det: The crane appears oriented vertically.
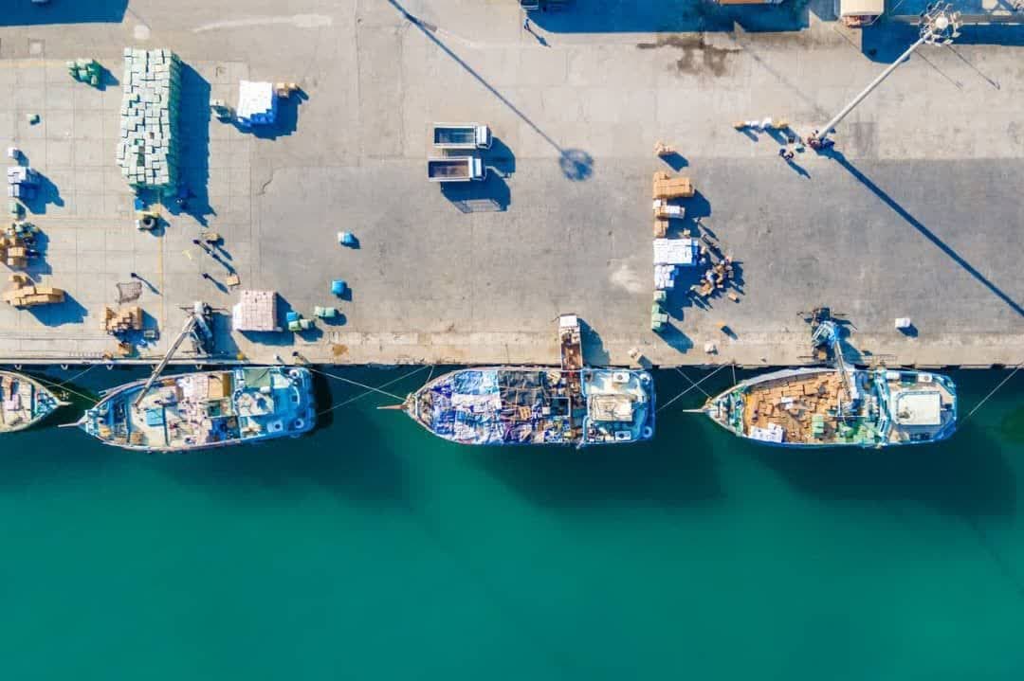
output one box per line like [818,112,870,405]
[806,303,854,404]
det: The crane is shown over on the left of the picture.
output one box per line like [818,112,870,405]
[136,296,226,408]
